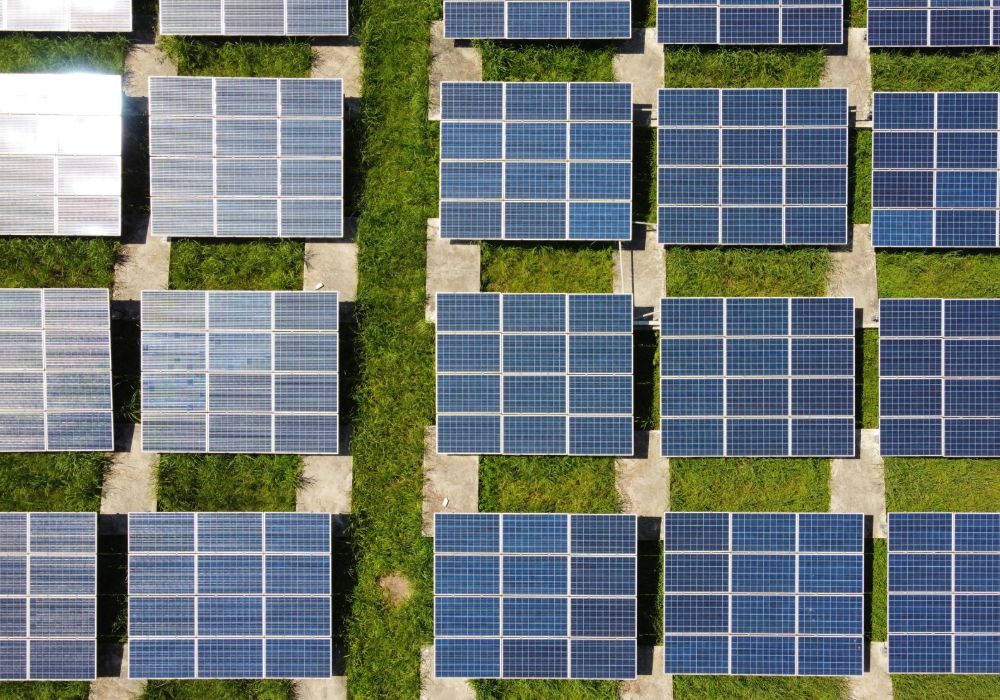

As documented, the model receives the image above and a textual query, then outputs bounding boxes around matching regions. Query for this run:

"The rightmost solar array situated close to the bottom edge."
[876,512,1000,675]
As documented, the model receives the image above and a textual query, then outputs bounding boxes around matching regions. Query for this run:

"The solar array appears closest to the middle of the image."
[437,293,634,454]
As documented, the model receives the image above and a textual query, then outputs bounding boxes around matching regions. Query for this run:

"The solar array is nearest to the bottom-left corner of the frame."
[0,514,108,679]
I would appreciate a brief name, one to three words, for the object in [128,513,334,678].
solar array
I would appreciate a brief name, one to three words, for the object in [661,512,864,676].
solar array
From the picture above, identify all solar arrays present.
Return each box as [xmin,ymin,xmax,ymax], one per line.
[661,512,864,676]
[128,513,334,678]
[656,0,843,47]
[435,514,638,679]
[862,92,1000,248]
[656,298,854,457]
[0,290,118,452]
[862,0,1000,50]
[876,512,1000,675]
[868,298,1000,457]
[439,82,632,240]
[0,77,133,235]
[142,291,341,452]
[443,0,632,43]
[160,0,349,39]
[654,88,848,244]
[0,514,108,679]
[0,0,138,35]
[149,78,345,235]
[437,293,634,454]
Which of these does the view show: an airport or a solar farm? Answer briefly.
solar farm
